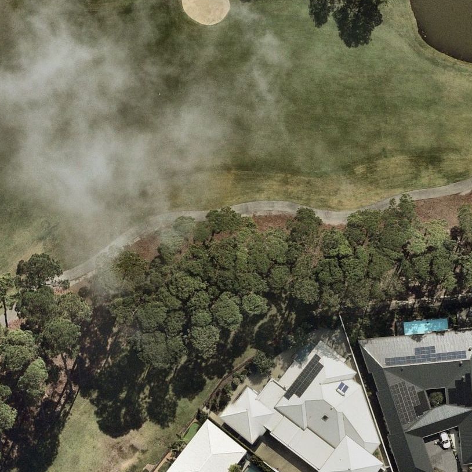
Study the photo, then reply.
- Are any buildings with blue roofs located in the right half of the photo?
No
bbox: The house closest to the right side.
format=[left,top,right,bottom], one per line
[358,334,472,472]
